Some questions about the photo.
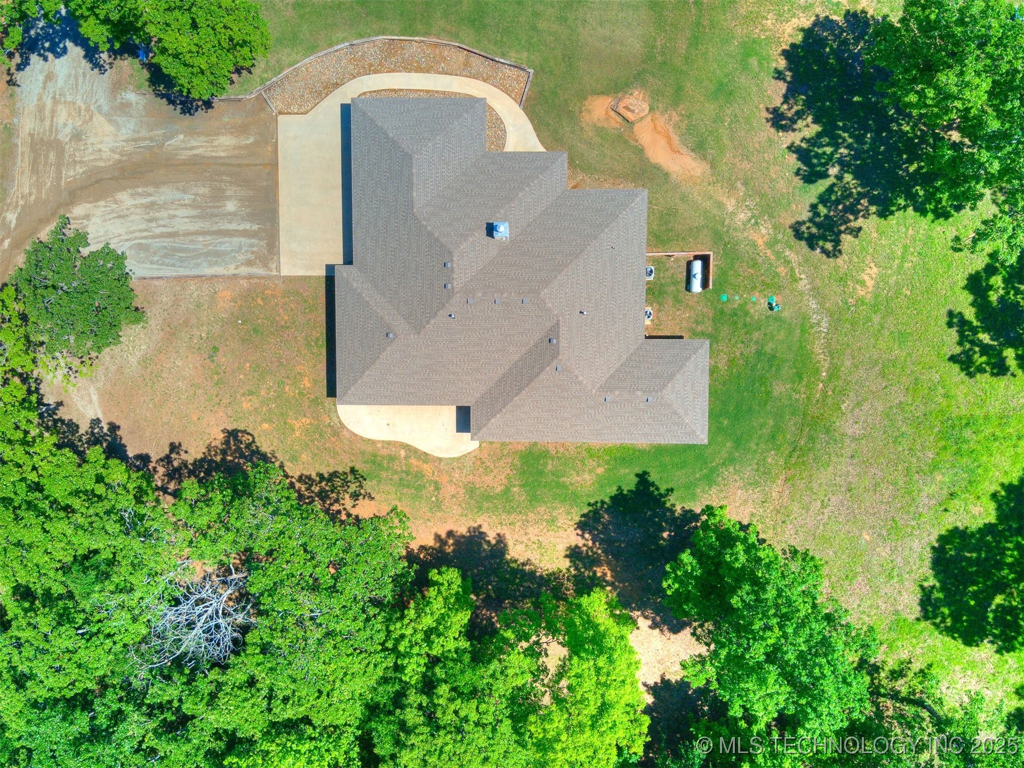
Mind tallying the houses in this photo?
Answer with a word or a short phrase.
1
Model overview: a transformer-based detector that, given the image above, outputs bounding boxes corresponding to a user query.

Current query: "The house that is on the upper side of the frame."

[334,96,711,445]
